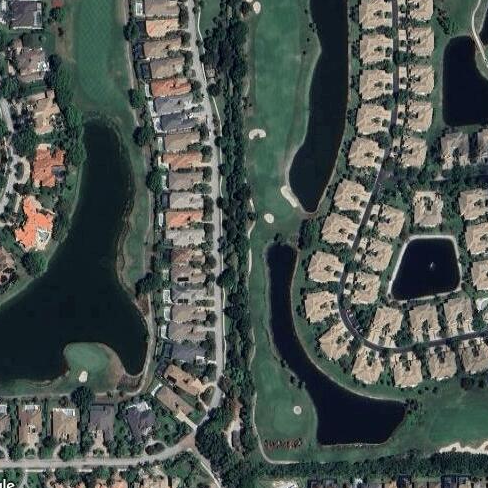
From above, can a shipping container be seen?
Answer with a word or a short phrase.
No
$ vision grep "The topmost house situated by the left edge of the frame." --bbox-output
[6,0,49,25]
